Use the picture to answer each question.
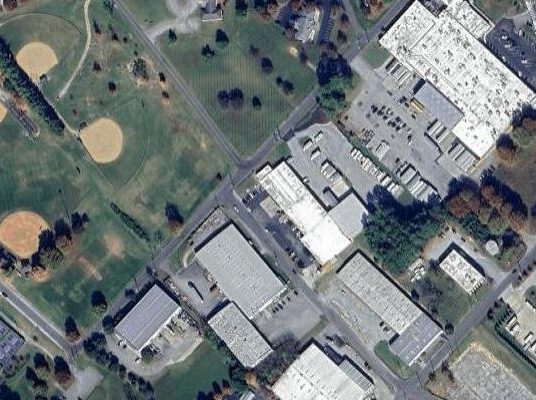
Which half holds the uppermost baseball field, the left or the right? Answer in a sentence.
The uppermost baseball field sits on the left side.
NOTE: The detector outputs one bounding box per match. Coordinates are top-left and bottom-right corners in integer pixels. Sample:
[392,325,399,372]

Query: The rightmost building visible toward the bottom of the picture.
[439,250,486,296]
